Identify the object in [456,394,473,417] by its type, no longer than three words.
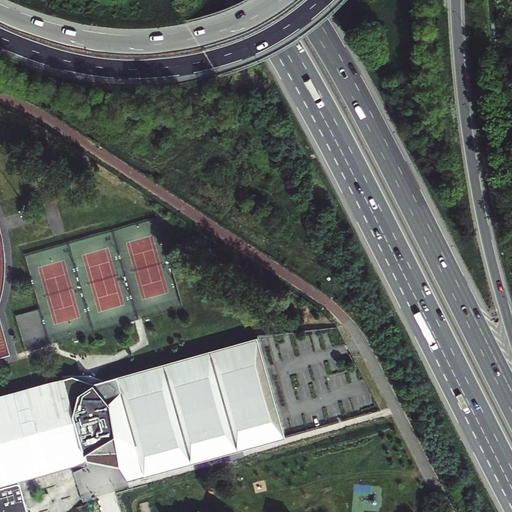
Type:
vehicle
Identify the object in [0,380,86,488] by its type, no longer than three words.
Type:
building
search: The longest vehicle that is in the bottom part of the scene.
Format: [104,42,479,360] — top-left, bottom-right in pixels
[414,311,440,351]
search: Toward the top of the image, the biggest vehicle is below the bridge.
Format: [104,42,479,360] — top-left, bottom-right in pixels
[306,79,326,110]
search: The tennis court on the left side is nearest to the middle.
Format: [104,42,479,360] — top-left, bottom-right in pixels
[114,218,182,316]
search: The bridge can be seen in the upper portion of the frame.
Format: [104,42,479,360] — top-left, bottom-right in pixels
[186,0,344,78]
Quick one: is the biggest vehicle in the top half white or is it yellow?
white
